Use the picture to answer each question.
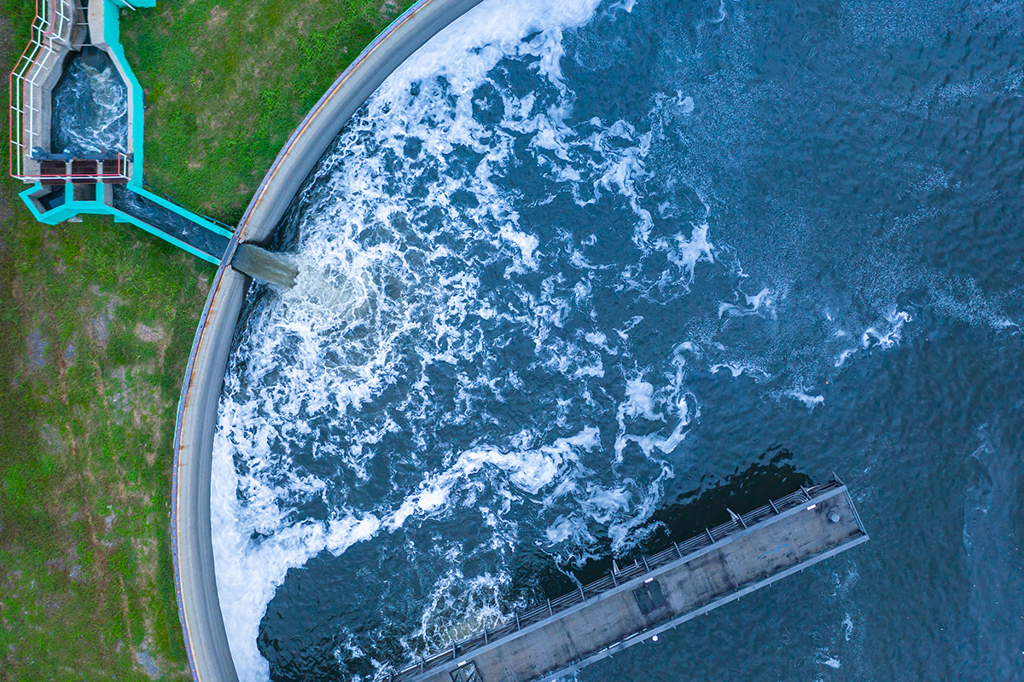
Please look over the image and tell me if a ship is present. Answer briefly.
No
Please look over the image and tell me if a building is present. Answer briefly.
No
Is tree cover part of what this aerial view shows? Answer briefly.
No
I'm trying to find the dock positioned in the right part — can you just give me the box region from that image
[368,467,871,682]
